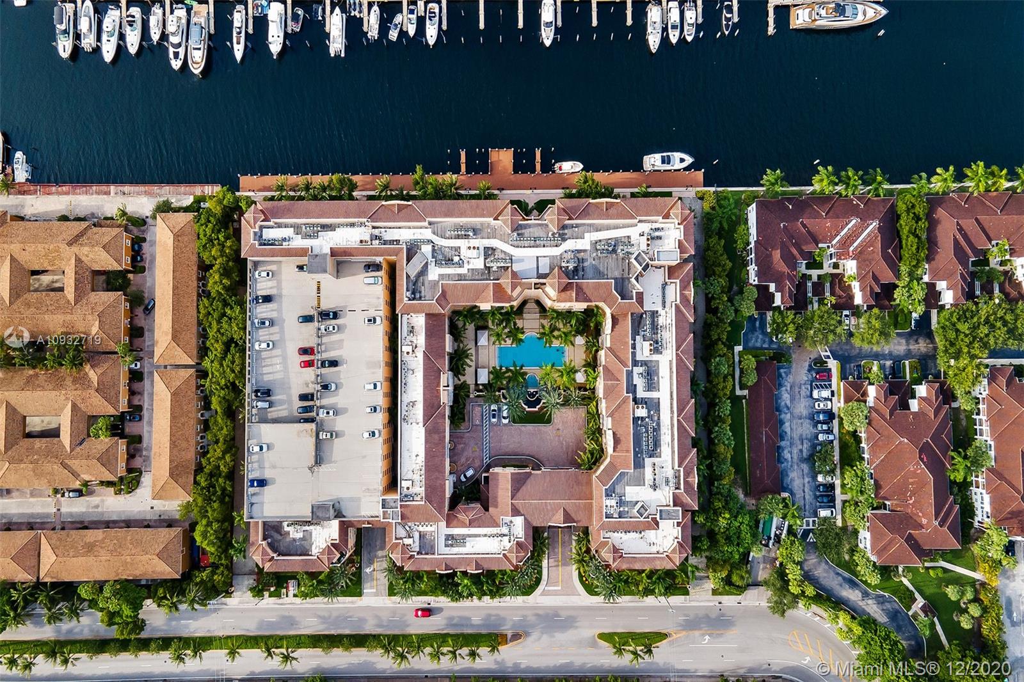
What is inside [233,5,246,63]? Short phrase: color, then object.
white boat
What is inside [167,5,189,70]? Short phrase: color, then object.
white boat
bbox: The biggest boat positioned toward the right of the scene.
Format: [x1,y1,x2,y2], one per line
[782,1,890,30]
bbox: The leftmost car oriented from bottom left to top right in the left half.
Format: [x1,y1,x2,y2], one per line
[142,298,156,316]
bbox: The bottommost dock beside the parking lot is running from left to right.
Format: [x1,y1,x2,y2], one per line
[240,150,703,191]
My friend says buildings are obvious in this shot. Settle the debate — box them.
[241,197,701,576]
[910,191,1024,309]
[960,366,1024,536]
[838,379,962,566]
[39,523,190,582]
[151,369,205,500]
[0,354,132,488]
[154,213,208,365]
[914,599,938,620]
[741,194,903,311]
[0,221,136,351]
